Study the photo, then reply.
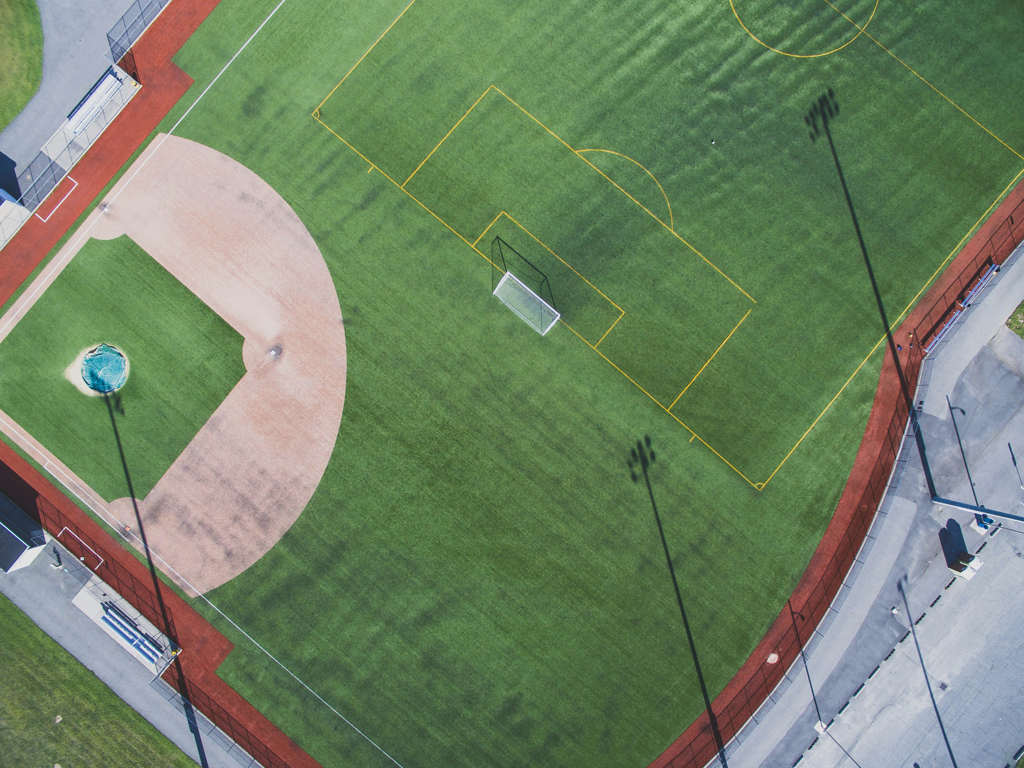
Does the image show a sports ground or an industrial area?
sports ground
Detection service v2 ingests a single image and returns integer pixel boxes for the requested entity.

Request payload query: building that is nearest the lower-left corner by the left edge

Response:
[0,502,46,581]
